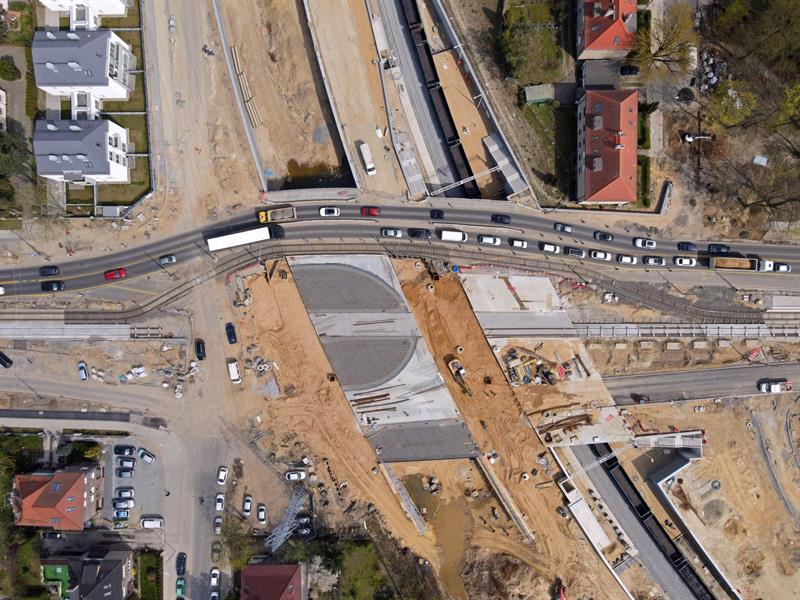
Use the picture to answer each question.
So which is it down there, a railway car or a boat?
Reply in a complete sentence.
Looking from above, you can make out a railway car.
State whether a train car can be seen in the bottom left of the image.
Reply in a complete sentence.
No, looking in the bottom left of the image, there is no train car.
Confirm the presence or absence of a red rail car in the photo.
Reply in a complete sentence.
No, the picture doesn't show any red rail car.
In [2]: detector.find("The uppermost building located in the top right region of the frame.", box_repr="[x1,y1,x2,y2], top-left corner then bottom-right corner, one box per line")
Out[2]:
[578,0,640,65]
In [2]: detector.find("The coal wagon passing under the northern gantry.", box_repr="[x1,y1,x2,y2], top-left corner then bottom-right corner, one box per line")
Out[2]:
[449,142,479,197]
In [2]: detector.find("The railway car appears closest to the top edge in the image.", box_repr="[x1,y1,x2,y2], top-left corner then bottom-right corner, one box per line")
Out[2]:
[398,0,420,31]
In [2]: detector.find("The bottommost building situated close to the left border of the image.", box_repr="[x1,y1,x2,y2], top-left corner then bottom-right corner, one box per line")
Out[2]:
[38,538,138,600]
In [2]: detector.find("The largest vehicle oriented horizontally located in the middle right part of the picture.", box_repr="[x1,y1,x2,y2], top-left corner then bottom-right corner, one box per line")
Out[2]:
[712,258,776,273]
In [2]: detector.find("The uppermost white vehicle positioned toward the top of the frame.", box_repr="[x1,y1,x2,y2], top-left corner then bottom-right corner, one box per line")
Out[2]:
[357,141,376,175]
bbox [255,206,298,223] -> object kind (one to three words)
vehicle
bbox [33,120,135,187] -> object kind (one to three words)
house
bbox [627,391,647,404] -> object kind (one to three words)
vehicle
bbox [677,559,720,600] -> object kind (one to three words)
rail car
